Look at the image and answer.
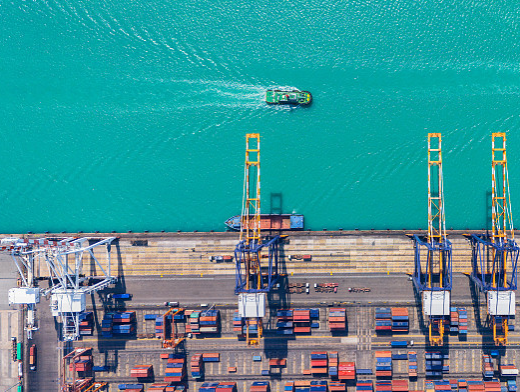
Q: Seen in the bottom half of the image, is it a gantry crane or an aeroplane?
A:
gantry crane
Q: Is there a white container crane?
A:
Yes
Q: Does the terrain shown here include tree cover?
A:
No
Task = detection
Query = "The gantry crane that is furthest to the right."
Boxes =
[463,133,520,346]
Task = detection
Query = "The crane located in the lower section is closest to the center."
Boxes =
[230,134,290,347]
